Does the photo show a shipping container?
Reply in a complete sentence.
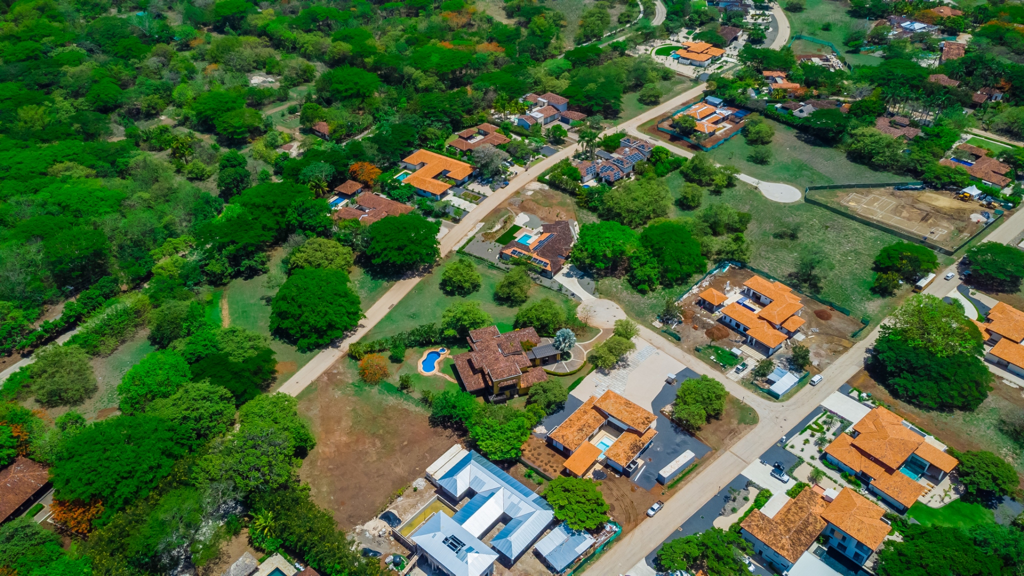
Yes, I can see a shipping container in this picture.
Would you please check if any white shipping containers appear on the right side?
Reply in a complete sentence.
Yes, on the right side there is a white shipping container.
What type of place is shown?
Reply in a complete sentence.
It's a residential area.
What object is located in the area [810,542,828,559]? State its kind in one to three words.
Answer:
swimming pool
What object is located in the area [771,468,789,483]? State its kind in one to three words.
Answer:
car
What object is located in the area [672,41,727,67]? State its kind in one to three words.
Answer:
house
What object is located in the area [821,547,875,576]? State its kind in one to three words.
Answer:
swimming pool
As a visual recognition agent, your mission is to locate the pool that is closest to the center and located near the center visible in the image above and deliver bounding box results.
[515,231,534,245]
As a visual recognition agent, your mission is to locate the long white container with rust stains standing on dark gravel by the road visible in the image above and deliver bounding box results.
[657,450,695,485]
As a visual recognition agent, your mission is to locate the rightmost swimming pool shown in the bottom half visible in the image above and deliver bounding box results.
[898,460,927,482]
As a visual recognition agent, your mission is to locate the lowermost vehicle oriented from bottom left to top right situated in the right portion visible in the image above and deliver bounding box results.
[646,500,666,516]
